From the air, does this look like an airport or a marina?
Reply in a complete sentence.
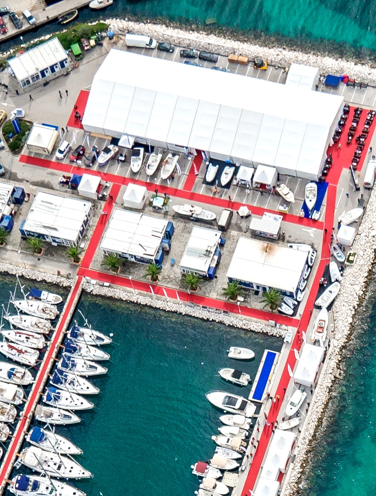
The picture captures a marina.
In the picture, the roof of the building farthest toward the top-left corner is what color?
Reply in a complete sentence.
The roof over the building farthest toward the top-left corner appears white.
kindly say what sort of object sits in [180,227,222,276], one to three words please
building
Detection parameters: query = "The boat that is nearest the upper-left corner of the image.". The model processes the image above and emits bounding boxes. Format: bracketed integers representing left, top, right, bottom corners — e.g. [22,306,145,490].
[56,9,78,25]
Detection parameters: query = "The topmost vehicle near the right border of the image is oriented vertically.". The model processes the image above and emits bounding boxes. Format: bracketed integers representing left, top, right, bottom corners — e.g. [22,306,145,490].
[363,159,376,189]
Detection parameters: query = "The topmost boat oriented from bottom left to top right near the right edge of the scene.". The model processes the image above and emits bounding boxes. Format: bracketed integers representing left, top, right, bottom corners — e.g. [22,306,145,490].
[337,208,363,225]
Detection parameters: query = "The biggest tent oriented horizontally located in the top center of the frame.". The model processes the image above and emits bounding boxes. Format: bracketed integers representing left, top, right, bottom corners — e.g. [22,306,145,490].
[82,49,344,180]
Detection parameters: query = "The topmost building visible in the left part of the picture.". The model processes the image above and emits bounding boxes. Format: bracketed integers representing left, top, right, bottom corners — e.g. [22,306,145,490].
[7,37,69,87]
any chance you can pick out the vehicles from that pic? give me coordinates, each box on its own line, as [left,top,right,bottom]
[56,139,70,158]
[253,57,267,69]
[0,5,11,15]
[197,49,219,63]
[218,206,230,231]
[84,145,101,166]
[155,42,176,53]
[125,32,158,49]
[210,64,227,72]
[0,15,8,33]
[179,49,198,59]
[0,136,6,150]
[69,142,85,161]
[184,58,202,66]
[363,159,376,189]
[20,7,37,25]
[6,9,24,28]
